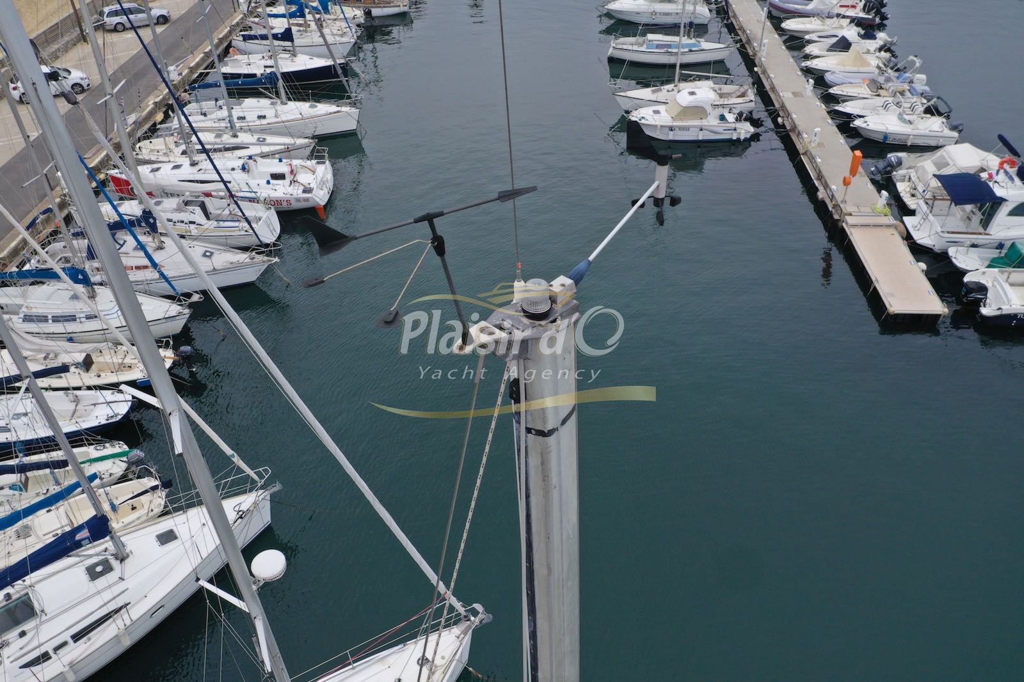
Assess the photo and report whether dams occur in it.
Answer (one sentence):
No, there appears to be no dam in this shot.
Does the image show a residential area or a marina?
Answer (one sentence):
The picture captures a marina.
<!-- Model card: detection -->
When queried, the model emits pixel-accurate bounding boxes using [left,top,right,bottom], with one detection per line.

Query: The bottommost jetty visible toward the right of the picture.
[842,219,954,328]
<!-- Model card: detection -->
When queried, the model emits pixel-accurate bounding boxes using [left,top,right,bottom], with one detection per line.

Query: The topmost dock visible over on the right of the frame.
[722,0,898,230]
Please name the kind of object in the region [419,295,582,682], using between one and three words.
boat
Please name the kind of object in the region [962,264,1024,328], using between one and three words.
boat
